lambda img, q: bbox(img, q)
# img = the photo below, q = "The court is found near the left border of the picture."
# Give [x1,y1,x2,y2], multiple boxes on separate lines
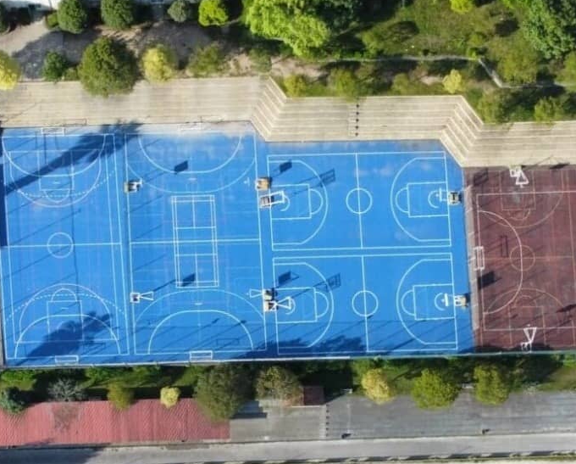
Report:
[0,126,132,366]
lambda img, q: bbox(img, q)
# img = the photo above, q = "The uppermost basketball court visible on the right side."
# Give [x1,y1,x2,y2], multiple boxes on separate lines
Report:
[262,135,468,255]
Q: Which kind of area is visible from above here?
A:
sports ground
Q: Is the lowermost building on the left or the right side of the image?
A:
left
